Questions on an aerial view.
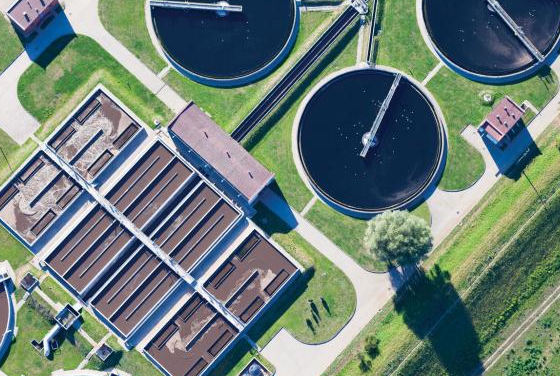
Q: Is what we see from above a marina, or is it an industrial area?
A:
industrial area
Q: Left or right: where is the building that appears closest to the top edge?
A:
left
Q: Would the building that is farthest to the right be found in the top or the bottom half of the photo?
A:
top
